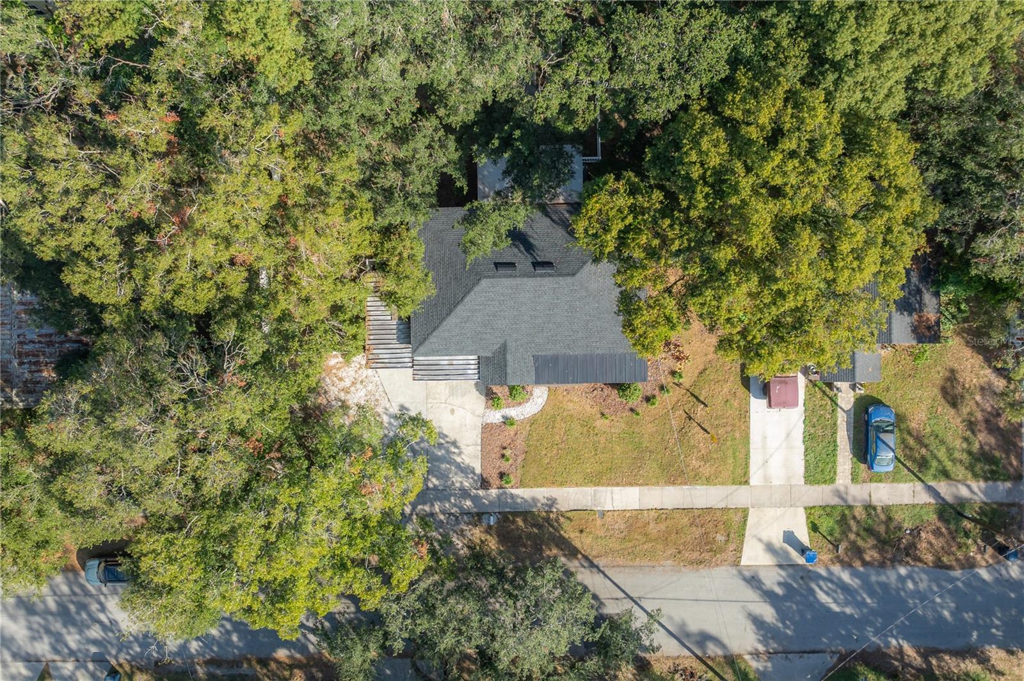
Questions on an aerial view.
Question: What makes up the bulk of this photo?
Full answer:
What you mostly see from above here is trees.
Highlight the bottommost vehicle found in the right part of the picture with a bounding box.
[861,403,899,473]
